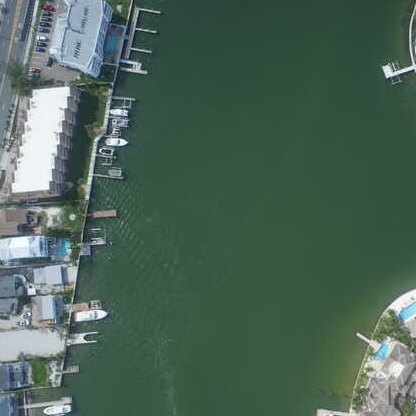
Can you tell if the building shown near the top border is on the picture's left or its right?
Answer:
left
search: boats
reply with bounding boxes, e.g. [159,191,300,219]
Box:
[73,310,109,322]
[43,406,73,414]
[112,119,129,126]
[110,171,122,176]
[99,148,115,155]
[105,139,129,146]
[110,110,129,116]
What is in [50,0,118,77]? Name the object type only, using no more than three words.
building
